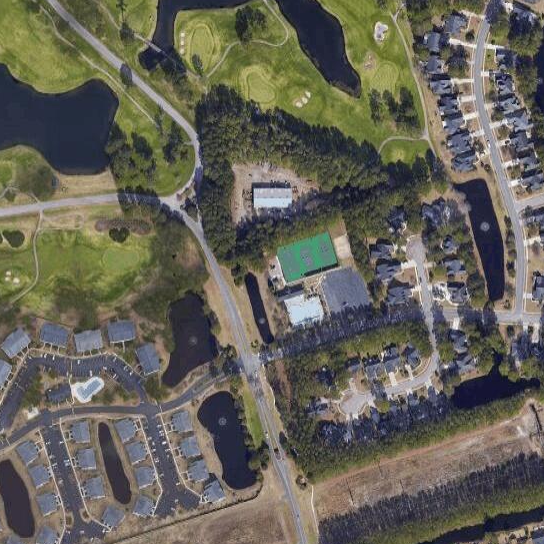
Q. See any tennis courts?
Yes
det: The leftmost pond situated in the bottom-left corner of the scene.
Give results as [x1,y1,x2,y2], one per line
[0,459,35,537]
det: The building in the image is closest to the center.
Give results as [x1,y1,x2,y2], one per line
[278,282,306,301]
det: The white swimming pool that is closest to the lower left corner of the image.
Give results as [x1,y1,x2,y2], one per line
[71,377,104,402]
